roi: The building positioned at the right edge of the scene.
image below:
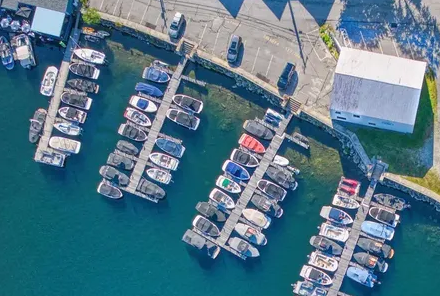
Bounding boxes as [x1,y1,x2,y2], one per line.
[331,47,427,131]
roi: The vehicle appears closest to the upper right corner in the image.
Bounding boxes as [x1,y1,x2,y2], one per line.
[277,61,296,92]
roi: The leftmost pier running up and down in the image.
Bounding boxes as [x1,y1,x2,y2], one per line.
[36,9,97,159]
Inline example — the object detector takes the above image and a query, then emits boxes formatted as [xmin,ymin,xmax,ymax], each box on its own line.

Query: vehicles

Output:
[169,11,185,41]
[277,61,296,92]
[227,34,242,65]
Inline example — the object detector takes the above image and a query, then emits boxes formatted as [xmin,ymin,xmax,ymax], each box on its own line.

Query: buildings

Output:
[0,0,83,44]
[331,47,427,131]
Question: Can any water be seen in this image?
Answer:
Yes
